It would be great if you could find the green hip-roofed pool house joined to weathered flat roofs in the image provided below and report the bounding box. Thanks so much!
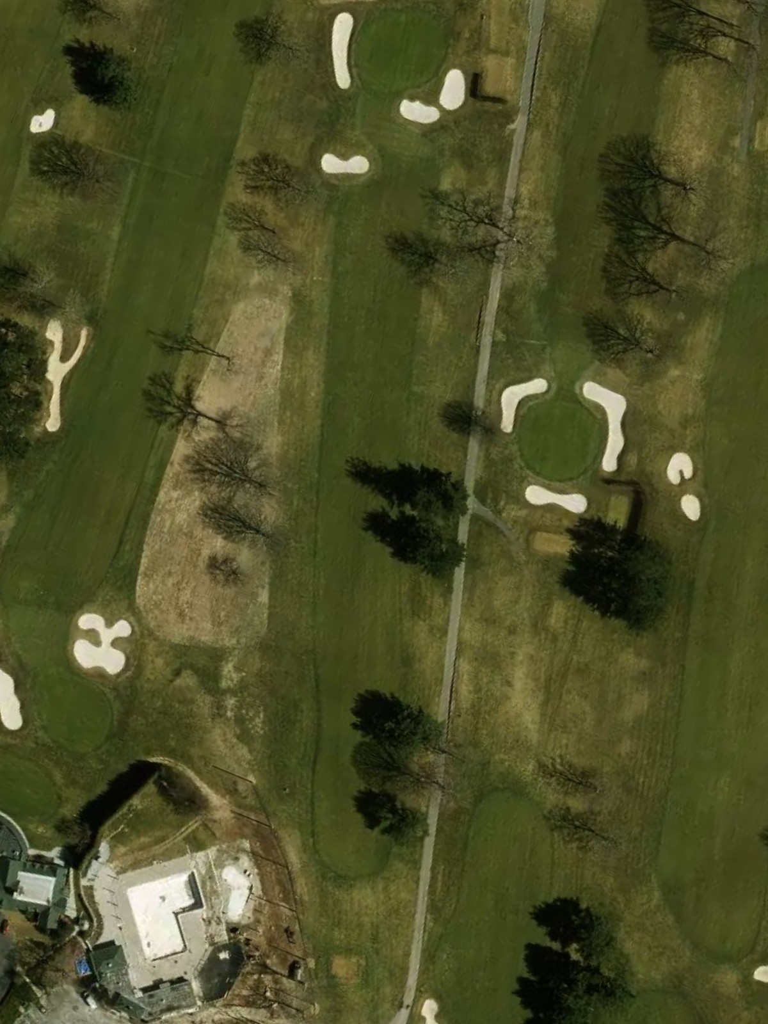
[89,946,196,1021]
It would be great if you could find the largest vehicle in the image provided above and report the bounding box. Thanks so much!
[82,993,96,1009]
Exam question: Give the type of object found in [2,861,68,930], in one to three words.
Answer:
building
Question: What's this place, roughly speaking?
golf course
